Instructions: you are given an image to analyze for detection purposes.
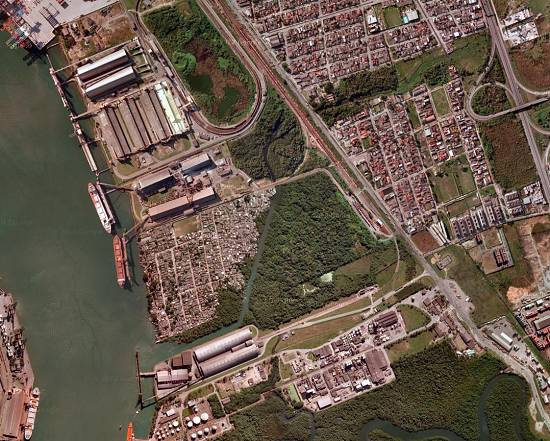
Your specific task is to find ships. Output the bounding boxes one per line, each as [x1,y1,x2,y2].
[113,235,127,289]
[25,387,39,440]
[86,182,113,234]
[126,421,133,441]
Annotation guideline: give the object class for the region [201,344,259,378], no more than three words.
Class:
shed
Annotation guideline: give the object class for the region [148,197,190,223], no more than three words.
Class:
shed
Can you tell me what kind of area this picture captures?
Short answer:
port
